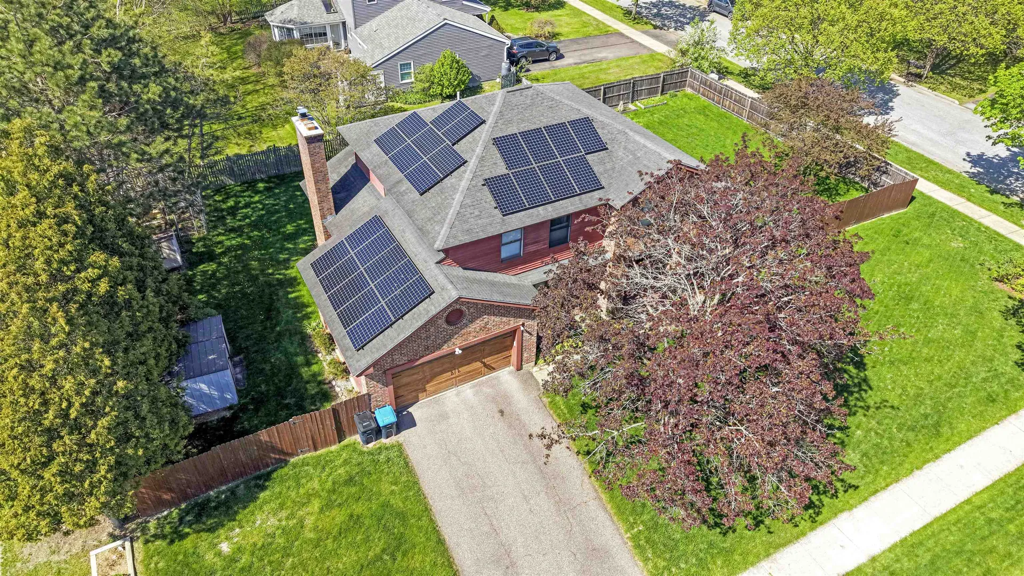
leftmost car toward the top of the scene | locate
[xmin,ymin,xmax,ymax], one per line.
[504,35,558,65]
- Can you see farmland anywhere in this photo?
No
